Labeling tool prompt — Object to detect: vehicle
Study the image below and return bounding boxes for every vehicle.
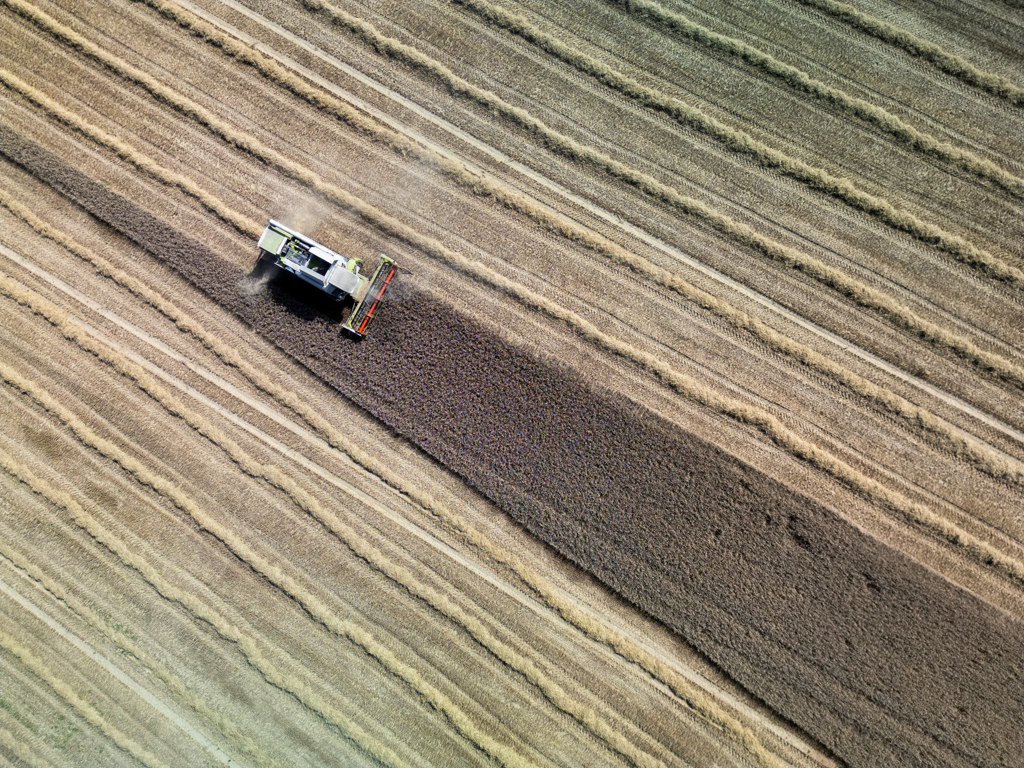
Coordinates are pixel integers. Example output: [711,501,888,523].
[258,219,413,337]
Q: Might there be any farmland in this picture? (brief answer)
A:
Yes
